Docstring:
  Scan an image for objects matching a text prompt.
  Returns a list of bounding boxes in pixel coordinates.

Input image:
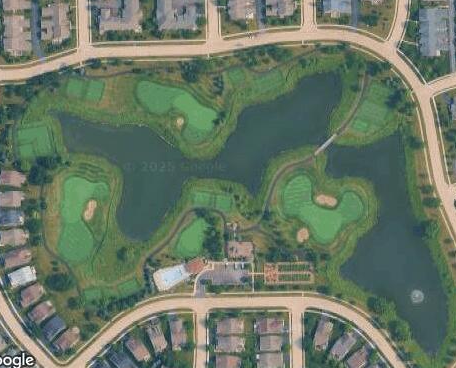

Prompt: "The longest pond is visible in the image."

[48,72,447,355]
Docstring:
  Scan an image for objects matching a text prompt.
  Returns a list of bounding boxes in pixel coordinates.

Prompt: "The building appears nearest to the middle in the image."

[228,240,252,260]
